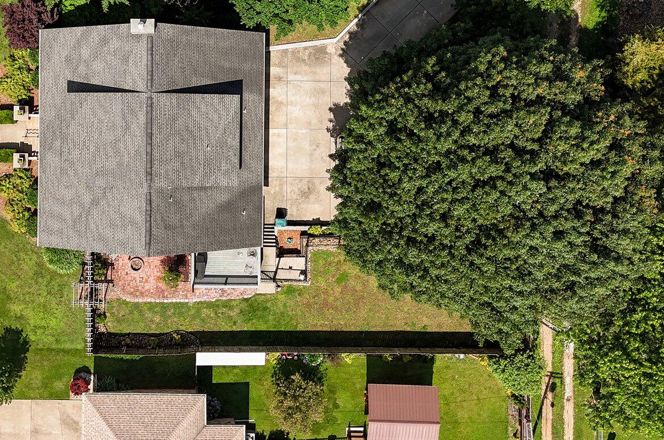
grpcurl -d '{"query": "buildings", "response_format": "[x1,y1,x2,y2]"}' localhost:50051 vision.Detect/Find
[81,385,246,440]
[363,380,440,440]
[37,19,266,258]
